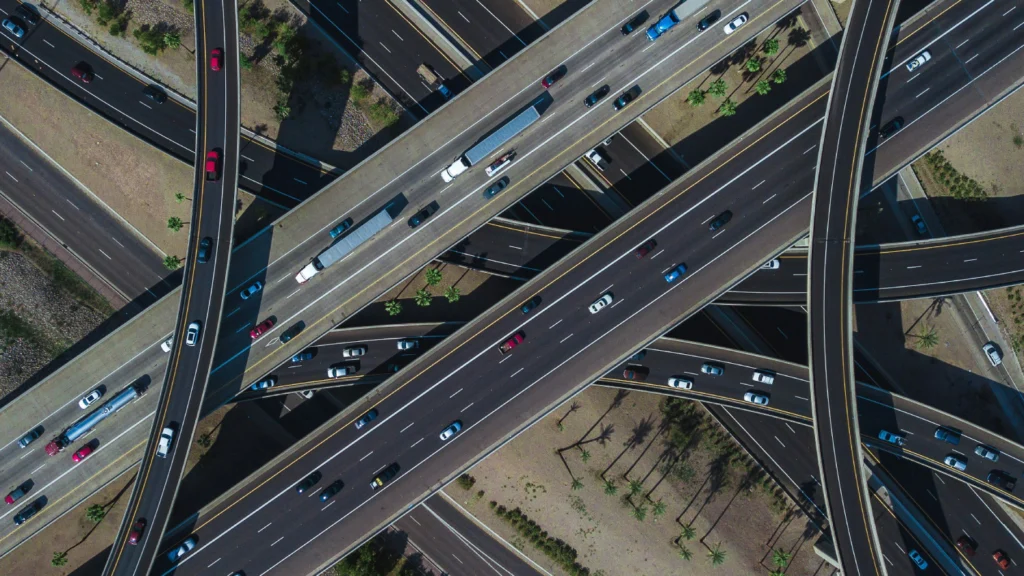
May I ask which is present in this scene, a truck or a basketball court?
truck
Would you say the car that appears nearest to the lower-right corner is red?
Yes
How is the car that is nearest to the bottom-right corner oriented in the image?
on a diagonal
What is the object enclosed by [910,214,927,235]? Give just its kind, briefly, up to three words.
car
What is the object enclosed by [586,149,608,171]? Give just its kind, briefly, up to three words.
truck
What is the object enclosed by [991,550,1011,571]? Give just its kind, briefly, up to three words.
car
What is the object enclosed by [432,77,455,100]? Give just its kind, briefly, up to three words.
truck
